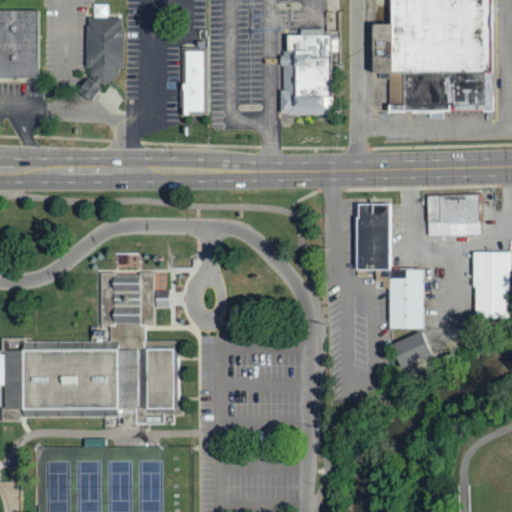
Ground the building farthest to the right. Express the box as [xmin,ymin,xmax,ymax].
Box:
[472,250,512,319]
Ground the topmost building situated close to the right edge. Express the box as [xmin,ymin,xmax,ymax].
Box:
[373,0,494,118]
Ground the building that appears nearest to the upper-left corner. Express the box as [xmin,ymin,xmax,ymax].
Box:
[0,11,41,80]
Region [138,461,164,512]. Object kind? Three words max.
tennis court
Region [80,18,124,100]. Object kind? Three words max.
building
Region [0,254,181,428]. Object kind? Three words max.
building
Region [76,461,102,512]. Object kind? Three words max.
tennis court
